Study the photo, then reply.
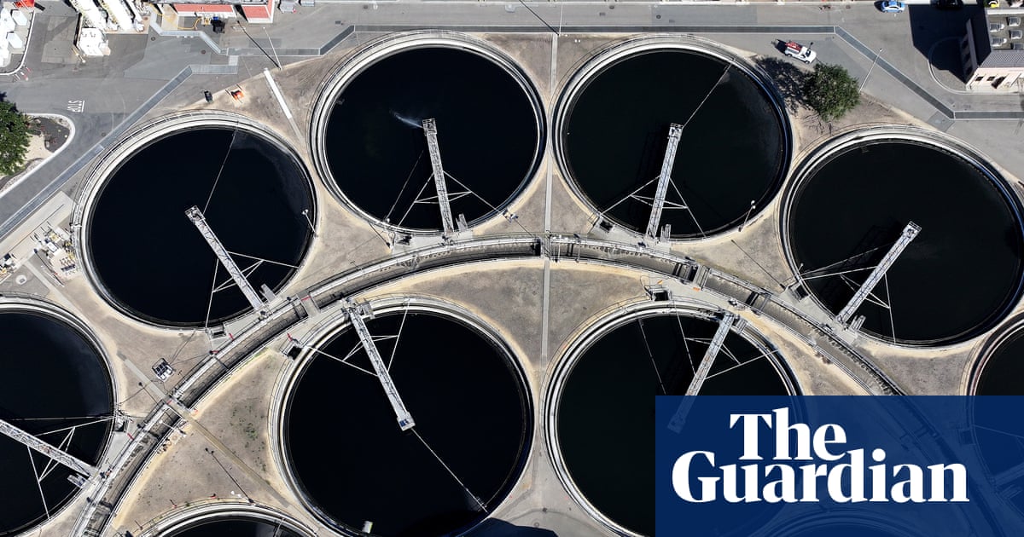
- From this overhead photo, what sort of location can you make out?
industrial area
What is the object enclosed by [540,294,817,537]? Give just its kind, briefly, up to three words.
storage tank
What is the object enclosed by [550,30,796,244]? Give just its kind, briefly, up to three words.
storage tank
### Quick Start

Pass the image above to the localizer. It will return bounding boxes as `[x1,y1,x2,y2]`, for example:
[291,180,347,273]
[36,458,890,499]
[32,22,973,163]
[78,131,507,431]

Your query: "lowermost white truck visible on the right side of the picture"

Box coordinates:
[782,39,820,67]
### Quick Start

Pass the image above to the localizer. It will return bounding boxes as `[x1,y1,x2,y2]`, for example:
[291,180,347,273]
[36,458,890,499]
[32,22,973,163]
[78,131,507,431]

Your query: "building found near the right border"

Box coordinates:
[959,6,1024,104]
